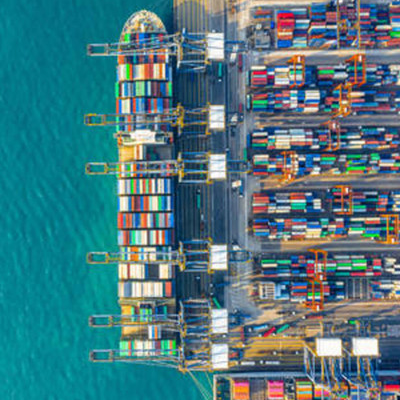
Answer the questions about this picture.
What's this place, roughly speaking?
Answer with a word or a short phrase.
port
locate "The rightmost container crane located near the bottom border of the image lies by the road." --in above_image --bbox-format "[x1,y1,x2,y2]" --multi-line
[330,314,384,400]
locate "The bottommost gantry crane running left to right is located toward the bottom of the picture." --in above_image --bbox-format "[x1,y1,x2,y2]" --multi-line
[90,326,251,370]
